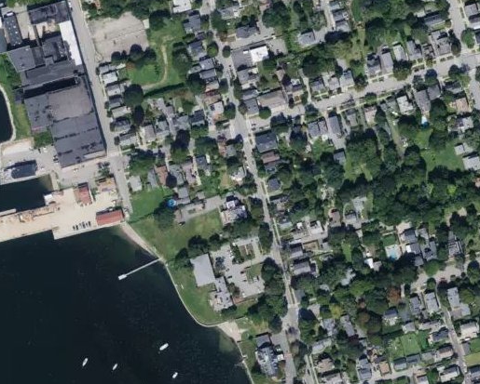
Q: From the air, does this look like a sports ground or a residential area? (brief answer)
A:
residential area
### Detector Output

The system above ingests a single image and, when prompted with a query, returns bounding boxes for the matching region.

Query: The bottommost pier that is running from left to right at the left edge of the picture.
[0,185,122,242]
